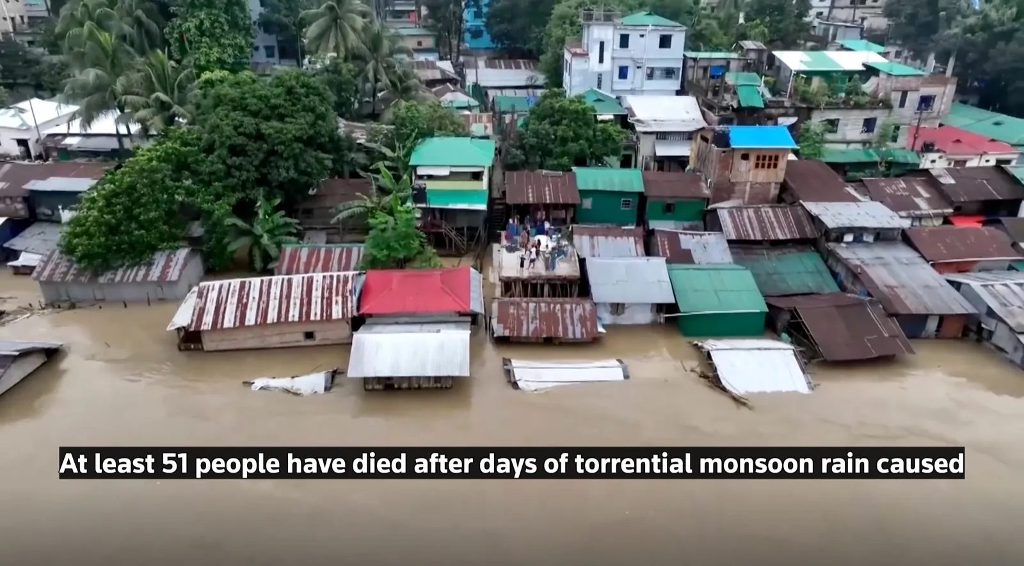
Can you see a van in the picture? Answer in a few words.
No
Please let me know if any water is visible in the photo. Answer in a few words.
Yes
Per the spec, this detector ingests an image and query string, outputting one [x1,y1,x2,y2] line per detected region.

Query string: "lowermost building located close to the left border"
[0,335,62,387]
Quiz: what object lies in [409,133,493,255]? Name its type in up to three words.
house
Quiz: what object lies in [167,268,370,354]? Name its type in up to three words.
house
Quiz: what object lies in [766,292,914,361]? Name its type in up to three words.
building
